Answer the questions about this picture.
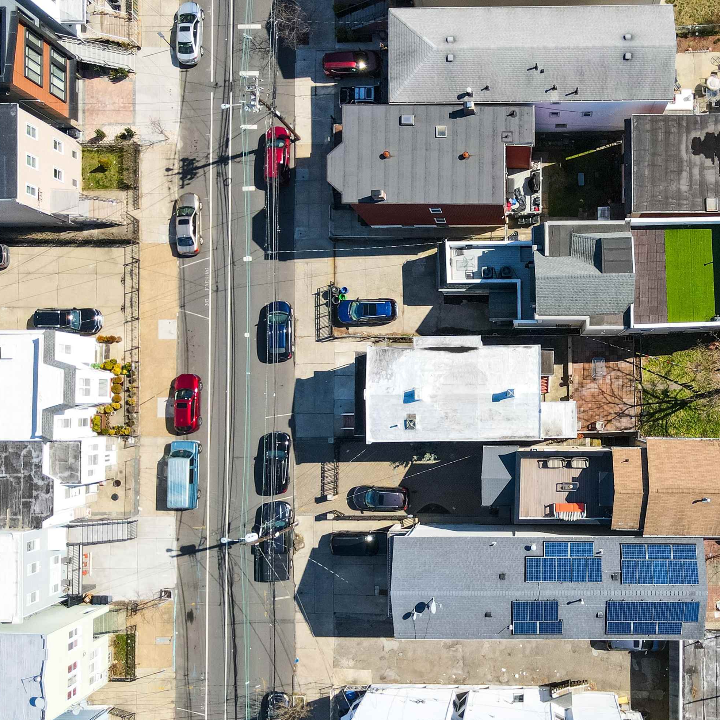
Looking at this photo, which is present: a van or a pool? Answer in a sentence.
I can see a van in this picture.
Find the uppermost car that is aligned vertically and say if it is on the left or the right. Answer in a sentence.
The uppermost car that is aligned vertically appears in the left half of the scene.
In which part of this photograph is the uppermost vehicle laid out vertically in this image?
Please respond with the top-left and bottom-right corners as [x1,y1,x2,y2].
[173,0,206,67]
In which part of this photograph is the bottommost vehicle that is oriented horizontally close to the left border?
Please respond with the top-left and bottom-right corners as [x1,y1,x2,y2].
[34,302,106,334]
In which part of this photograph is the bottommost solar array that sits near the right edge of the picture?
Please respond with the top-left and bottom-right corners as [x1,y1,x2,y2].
[607,601,699,635]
